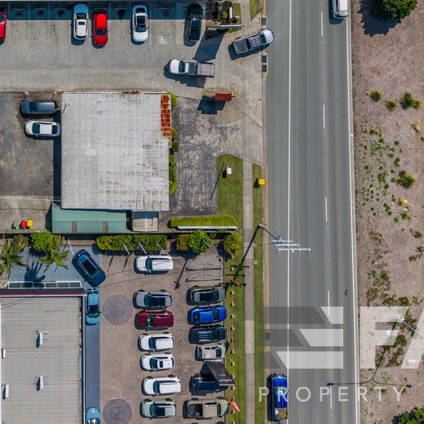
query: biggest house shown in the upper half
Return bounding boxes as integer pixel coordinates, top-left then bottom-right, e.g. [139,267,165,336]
[62,91,171,209]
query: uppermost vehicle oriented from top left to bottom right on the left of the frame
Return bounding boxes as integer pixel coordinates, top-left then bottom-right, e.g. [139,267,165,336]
[72,248,105,288]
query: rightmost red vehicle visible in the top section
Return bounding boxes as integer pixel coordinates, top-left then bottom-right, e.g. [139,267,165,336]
[91,9,109,48]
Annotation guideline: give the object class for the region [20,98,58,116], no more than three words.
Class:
car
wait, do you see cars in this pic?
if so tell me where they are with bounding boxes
[189,373,228,394]
[135,255,174,274]
[196,342,227,362]
[169,58,215,79]
[135,310,175,332]
[137,333,176,353]
[230,27,275,56]
[72,2,91,41]
[20,98,58,116]
[188,305,226,325]
[132,4,150,44]
[141,398,177,419]
[184,397,228,419]
[329,0,347,18]
[140,352,175,372]
[133,290,173,310]
[141,375,183,396]
[24,120,61,138]
[0,6,9,43]
[186,286,226,307]
[85,287,103,325]
[85,410,101,424]
[91,9,109,48]
[189,325,227,345]
[72,248,105,288]
[185,3,205,41]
